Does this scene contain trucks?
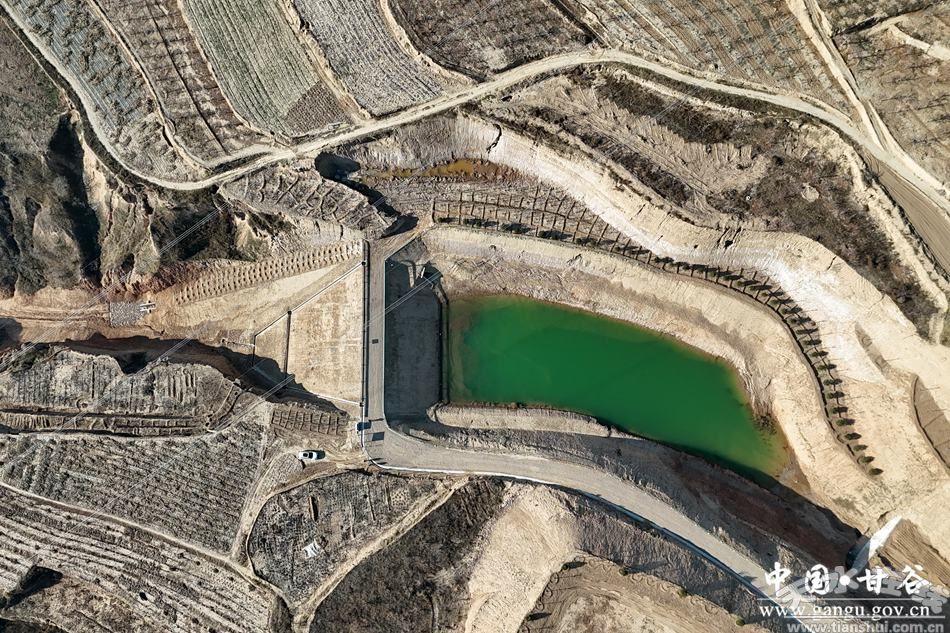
No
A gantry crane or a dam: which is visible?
dam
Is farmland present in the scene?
Yes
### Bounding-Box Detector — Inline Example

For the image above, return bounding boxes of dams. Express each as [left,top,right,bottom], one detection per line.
[222,231,447,440]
